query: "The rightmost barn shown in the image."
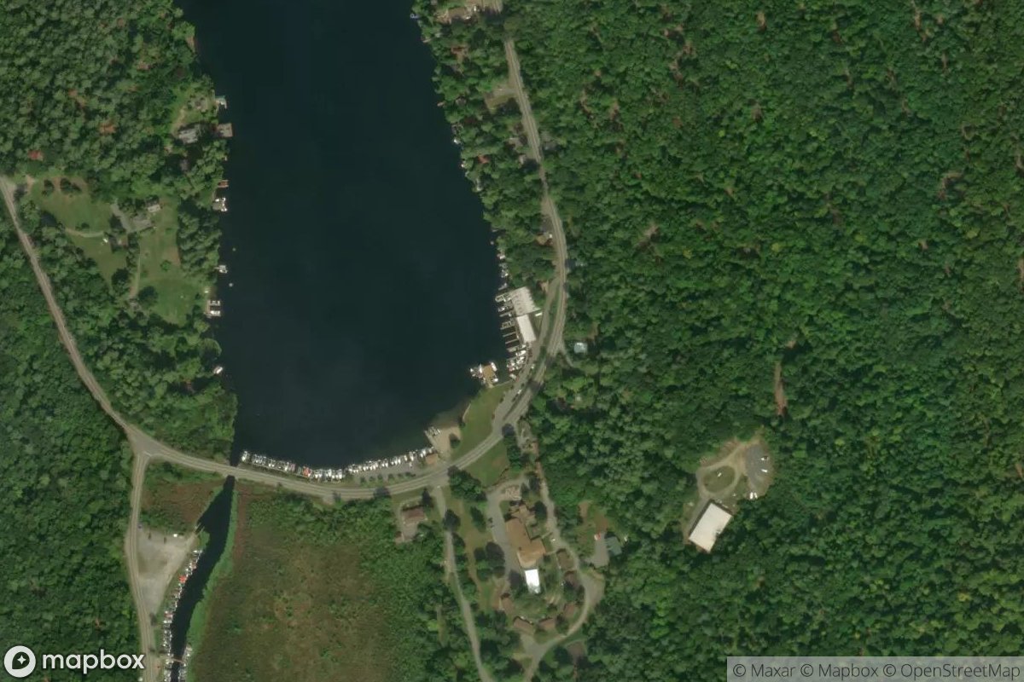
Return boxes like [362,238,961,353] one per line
[690,504,733,552]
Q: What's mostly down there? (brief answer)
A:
trees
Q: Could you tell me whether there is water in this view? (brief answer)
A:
Yes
